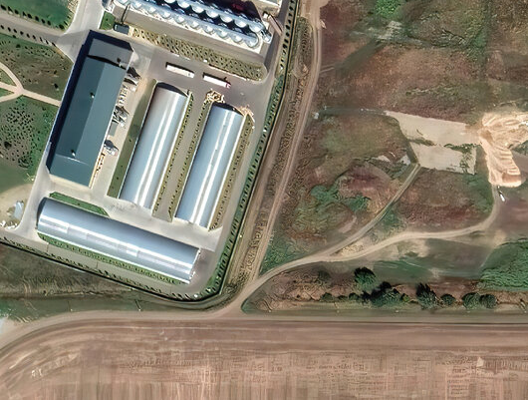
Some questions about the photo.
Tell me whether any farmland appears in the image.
Yes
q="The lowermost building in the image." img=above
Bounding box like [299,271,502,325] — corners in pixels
[35,199,201,284]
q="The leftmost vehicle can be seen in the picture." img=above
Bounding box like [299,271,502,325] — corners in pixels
[164,64,194,78]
